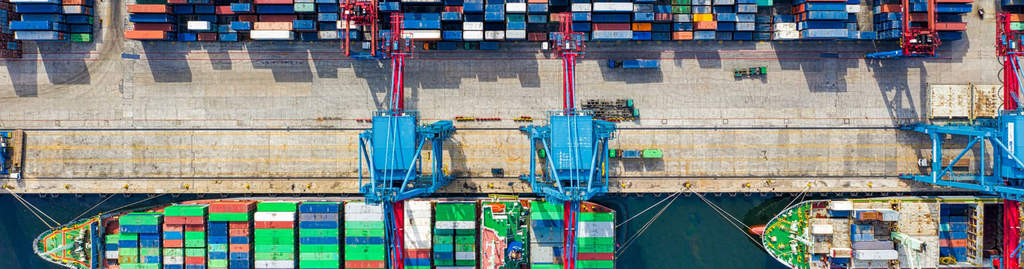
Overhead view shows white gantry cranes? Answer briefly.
No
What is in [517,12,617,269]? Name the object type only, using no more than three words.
container crane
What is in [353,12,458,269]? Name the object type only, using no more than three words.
container crane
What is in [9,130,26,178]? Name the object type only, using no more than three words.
vehicle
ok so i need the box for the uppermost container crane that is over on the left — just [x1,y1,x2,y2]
[340,0,390,59]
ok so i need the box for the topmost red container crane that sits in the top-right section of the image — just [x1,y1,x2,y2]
[863,0,938,59]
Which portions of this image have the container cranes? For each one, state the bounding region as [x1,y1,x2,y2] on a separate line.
[863,0,938,59]
[517,12,617,269]
[898,12,1024,269]
[353,12,458,269]
[340,0,390,59]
